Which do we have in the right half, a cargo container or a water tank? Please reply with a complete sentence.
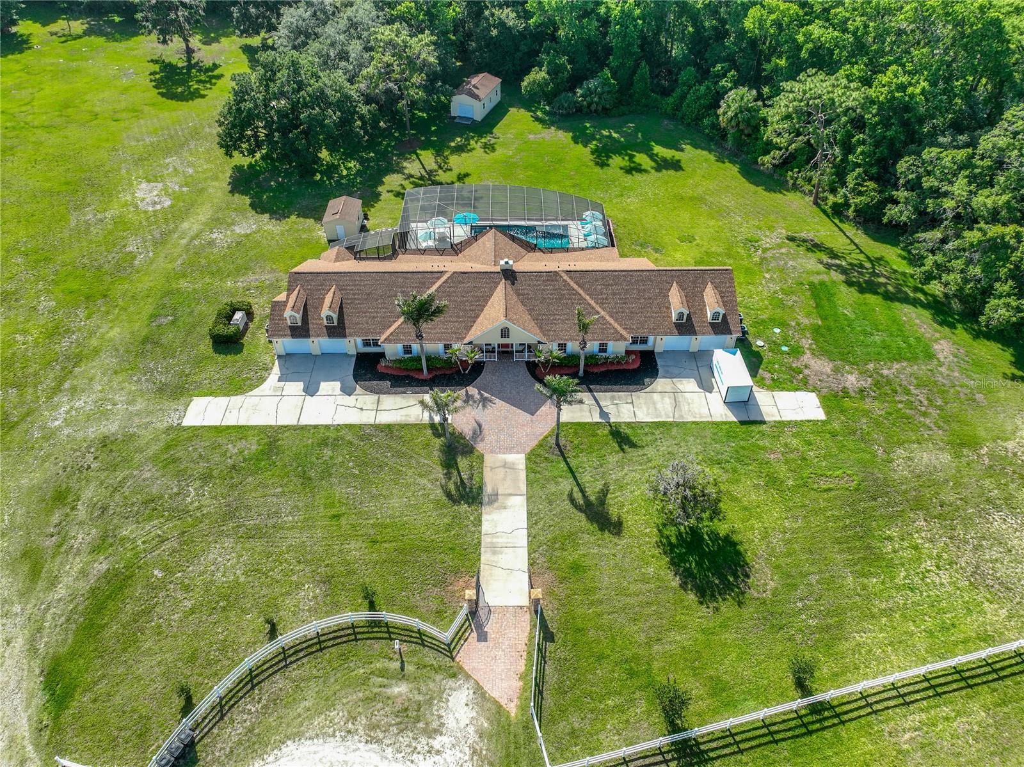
There is a cargo container in the right half.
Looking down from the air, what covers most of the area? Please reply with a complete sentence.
The largest share of the image is taken up by grass.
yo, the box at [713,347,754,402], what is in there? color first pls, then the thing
white shipping container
